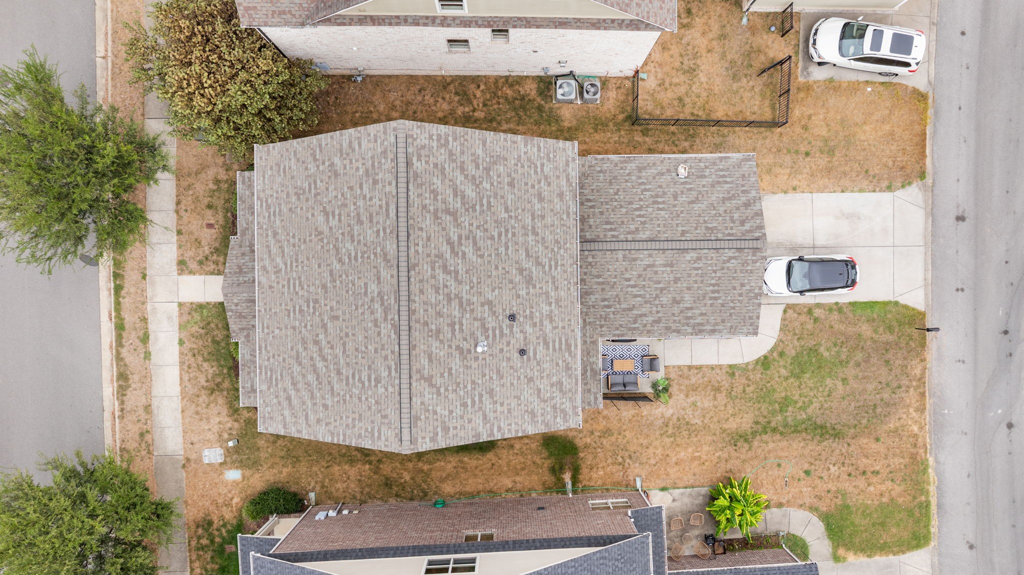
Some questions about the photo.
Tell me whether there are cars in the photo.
Yes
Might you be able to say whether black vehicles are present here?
No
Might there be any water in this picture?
No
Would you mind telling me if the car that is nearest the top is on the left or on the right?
right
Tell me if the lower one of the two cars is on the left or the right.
right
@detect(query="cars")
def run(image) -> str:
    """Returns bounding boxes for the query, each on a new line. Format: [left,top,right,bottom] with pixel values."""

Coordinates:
[763,252,860,300]
[808,17,926,77]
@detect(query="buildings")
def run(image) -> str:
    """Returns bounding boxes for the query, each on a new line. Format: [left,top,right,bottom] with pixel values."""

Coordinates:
[743,0,916,12]
[220,118,768,454]
[231,0,680,76]
[236,492,670,575]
